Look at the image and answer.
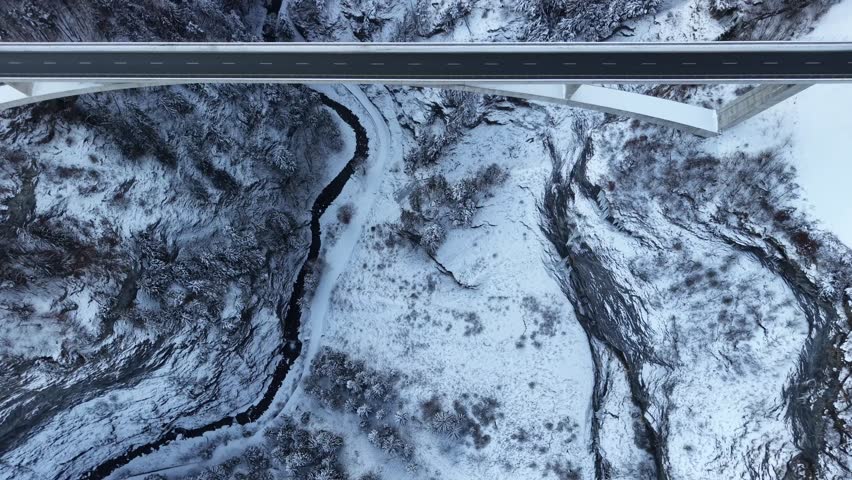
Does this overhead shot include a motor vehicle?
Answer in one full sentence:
No, the frame has no motor vehicle in it.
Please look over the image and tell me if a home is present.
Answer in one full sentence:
No, there's no home here.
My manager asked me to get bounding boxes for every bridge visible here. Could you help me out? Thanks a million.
[0,42,852,139]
